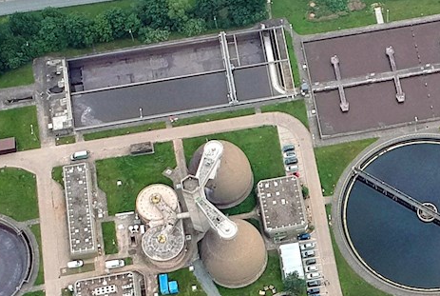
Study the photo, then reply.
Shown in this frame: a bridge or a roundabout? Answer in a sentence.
I can see a bridge in this picture.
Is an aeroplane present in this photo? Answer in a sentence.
No, the scene contains no aeroplane.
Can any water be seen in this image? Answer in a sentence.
Yes, the picture does contain water.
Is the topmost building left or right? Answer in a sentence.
It is on the left.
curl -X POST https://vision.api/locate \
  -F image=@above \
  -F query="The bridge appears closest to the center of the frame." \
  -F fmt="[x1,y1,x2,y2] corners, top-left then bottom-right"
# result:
[199,134,226,182]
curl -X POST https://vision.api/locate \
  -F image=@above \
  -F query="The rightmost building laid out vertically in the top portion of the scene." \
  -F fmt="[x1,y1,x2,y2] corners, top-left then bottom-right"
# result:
[34,56,69,133]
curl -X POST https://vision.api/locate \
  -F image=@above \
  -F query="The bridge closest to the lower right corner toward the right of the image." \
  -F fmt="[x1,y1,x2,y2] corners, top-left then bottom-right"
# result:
[351,164,440,220]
